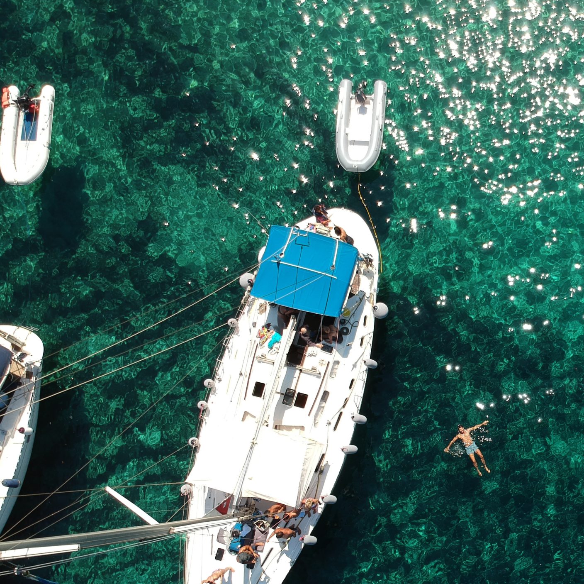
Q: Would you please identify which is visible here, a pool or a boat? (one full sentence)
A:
There is a boat in the scene.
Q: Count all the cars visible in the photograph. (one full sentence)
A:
I count no cars.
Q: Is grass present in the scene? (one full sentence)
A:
No, there is no grass in the image.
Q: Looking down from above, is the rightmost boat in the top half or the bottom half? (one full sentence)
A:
The rightmost boat sits in the top half of the picture.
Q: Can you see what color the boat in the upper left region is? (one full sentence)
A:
The boat in the upper left region looks white in the image.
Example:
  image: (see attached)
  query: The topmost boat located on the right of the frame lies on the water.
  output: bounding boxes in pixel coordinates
[335,78,388,171]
